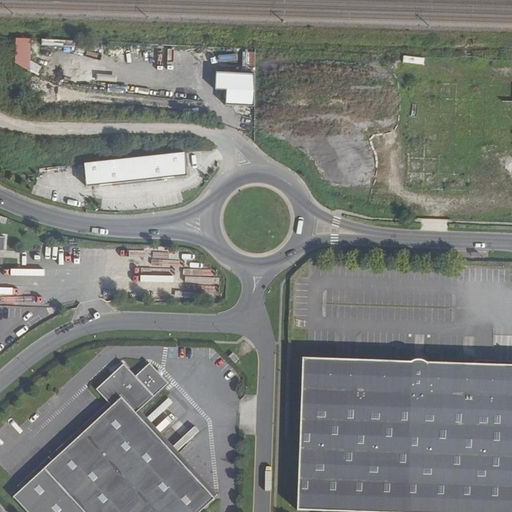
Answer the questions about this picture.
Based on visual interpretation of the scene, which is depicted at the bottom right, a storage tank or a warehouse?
warehouse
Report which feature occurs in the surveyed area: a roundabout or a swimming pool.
roundabout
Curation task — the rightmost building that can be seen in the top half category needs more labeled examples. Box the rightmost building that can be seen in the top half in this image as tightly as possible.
[216,71,254,106]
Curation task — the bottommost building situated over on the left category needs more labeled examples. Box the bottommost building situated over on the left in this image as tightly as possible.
[14,397,214,512]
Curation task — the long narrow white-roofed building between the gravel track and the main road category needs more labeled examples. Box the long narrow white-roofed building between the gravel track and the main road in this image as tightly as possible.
[84,152,186,188]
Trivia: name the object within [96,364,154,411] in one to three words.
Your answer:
building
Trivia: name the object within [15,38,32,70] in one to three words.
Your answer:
shed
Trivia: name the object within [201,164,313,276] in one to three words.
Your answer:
roundabout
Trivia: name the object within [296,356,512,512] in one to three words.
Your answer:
warehouse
